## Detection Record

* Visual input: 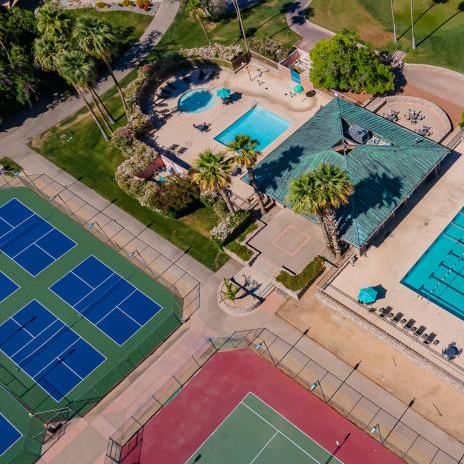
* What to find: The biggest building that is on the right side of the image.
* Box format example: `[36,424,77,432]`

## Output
[240,91,450,258]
